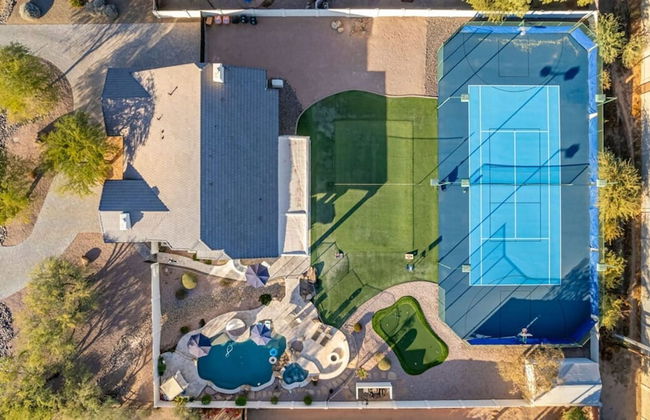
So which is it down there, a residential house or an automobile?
residential house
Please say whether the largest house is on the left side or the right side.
left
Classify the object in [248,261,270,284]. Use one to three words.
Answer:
umbrella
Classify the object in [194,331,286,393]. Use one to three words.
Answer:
swimming pool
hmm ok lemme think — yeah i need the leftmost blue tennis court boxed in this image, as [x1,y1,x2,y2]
[439,32,589,338]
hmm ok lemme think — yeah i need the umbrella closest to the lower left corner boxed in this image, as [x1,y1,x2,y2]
[189,332,213,355]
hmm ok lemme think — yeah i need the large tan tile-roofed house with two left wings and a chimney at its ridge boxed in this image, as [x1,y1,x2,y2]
[98,64,284,261]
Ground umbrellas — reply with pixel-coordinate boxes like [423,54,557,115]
[251,322,273,344]
[248,261,270,284]
[189,332,213,355]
